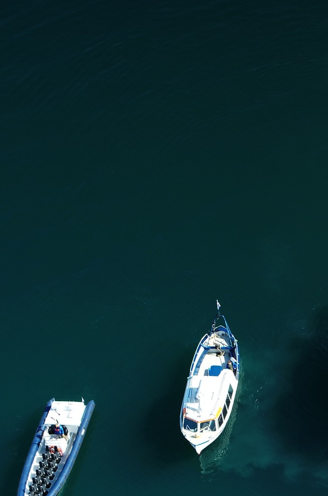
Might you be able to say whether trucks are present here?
No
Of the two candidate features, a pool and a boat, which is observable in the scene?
boat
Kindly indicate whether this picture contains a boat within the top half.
No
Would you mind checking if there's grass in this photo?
No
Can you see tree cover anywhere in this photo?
No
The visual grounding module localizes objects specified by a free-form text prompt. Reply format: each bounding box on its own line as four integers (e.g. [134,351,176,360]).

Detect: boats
[180,300,240,458]
[18,397,98,496]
